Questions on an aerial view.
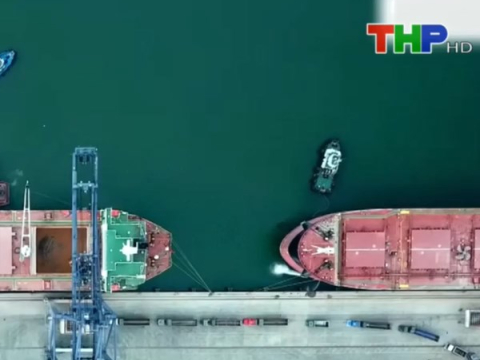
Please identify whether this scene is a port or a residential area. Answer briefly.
port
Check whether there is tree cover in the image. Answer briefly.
No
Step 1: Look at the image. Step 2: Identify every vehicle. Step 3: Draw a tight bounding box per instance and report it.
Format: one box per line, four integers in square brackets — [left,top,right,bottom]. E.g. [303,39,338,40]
[151,319,196,326]
[443,345,467,357]
[460,352,474,360]
[197,318,240,326]
[242,317,288,325]
[306,320,328,326]
[394,326,441,341]
[116,318,150,325]
[343,320,389,330]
